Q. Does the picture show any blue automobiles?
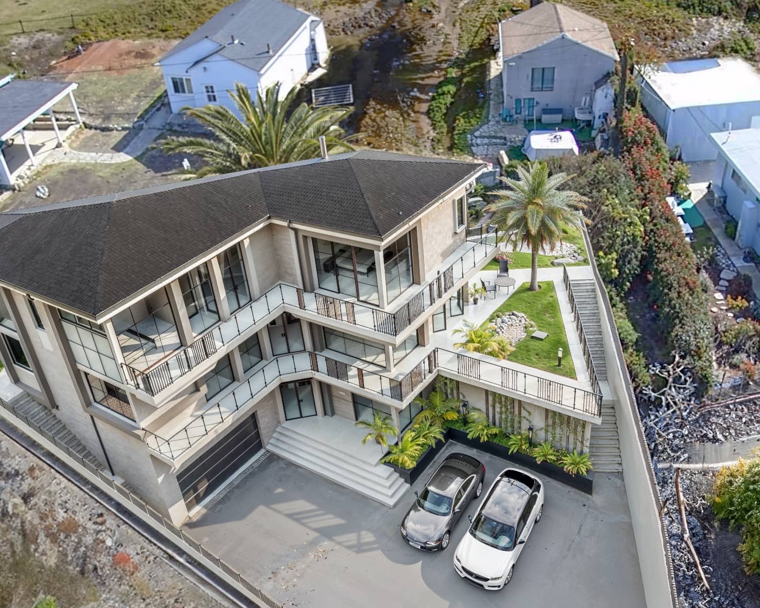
No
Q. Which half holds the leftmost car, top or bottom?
bottom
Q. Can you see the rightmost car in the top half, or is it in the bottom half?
bottom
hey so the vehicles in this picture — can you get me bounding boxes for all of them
[392,457,482,558]
[444,470,540,599]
